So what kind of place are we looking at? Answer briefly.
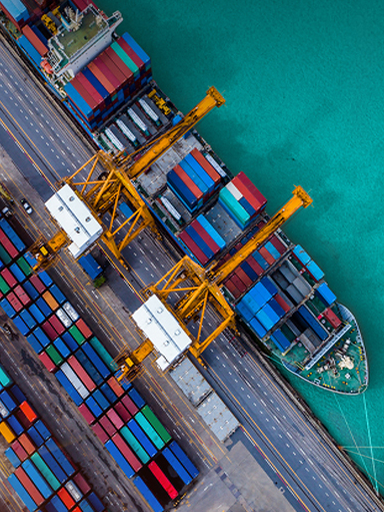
port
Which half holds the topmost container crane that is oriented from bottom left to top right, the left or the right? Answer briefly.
left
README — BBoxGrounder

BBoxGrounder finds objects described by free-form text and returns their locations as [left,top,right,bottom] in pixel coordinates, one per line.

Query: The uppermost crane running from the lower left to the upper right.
[18,87,235,269]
